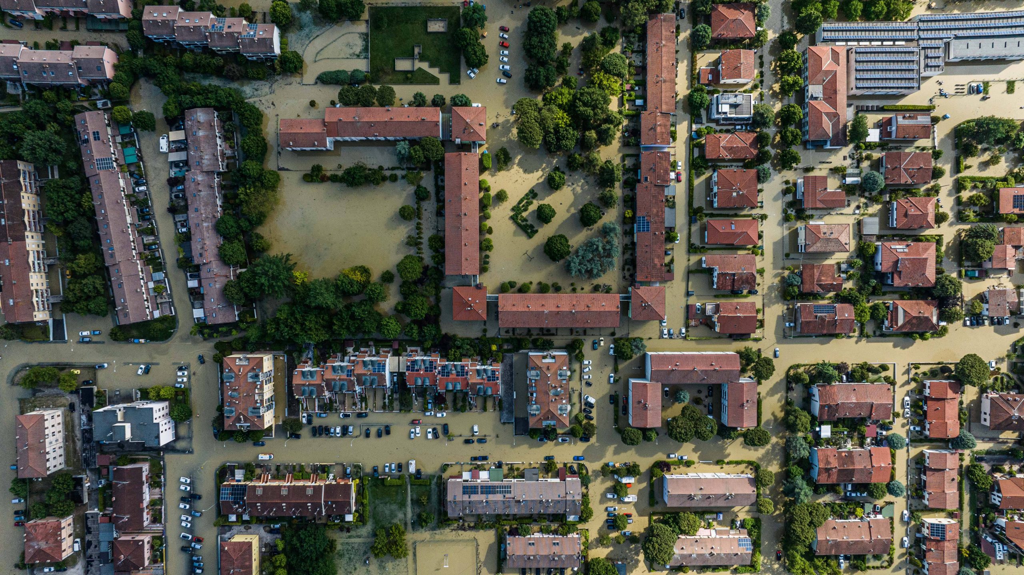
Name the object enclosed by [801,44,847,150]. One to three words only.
building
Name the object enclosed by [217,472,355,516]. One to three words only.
house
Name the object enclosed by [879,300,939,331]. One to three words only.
house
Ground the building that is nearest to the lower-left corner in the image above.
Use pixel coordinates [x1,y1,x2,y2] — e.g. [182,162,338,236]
[23,516,75,564]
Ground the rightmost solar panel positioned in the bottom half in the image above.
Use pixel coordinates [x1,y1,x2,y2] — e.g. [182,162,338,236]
[928,522,947,540]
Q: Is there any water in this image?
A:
Yes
